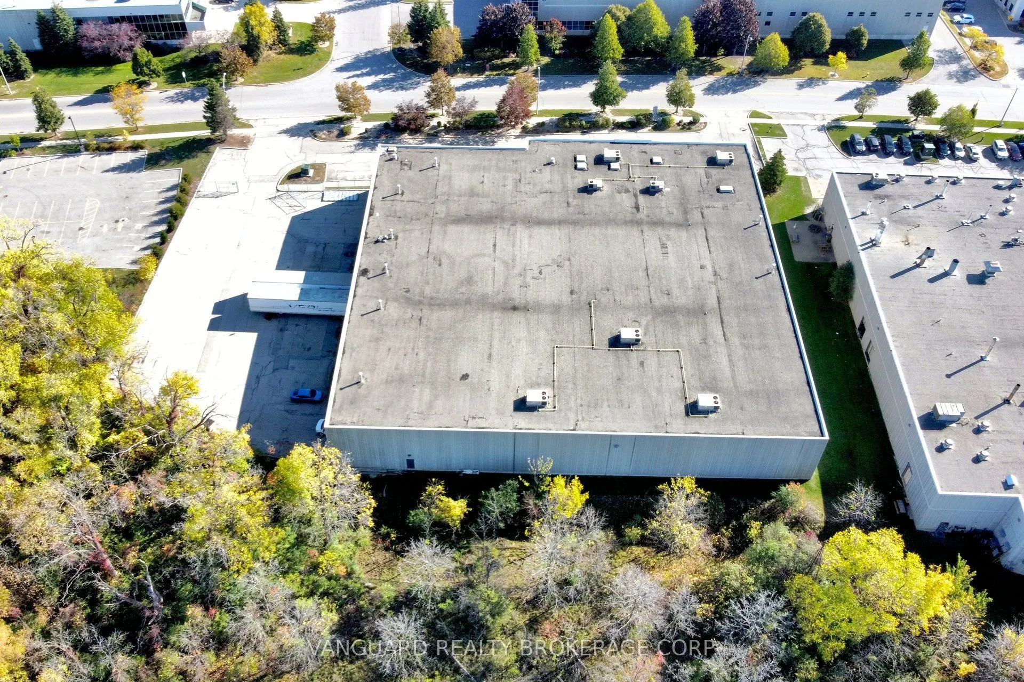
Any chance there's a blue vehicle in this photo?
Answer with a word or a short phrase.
Yes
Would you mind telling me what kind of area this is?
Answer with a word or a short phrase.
industrial area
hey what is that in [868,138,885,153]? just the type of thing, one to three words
car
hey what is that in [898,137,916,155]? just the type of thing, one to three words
car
